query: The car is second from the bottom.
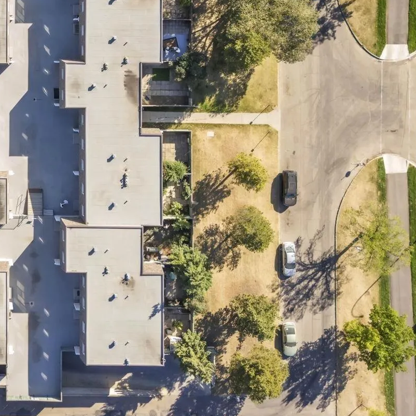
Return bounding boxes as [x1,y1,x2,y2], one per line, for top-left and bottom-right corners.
[280,242,298,276]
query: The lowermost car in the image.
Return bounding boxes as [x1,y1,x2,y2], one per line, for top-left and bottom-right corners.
[280,321,299,356]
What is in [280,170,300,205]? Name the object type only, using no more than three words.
car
